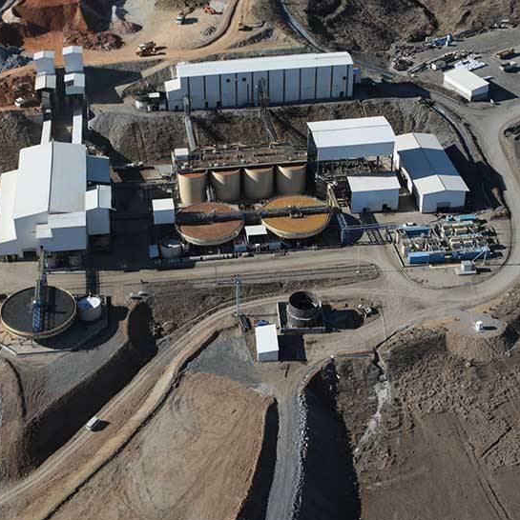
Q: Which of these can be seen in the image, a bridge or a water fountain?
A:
bridge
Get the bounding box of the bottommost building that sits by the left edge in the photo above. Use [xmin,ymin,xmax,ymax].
[0,141,116,278]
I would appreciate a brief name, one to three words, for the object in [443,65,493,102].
building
